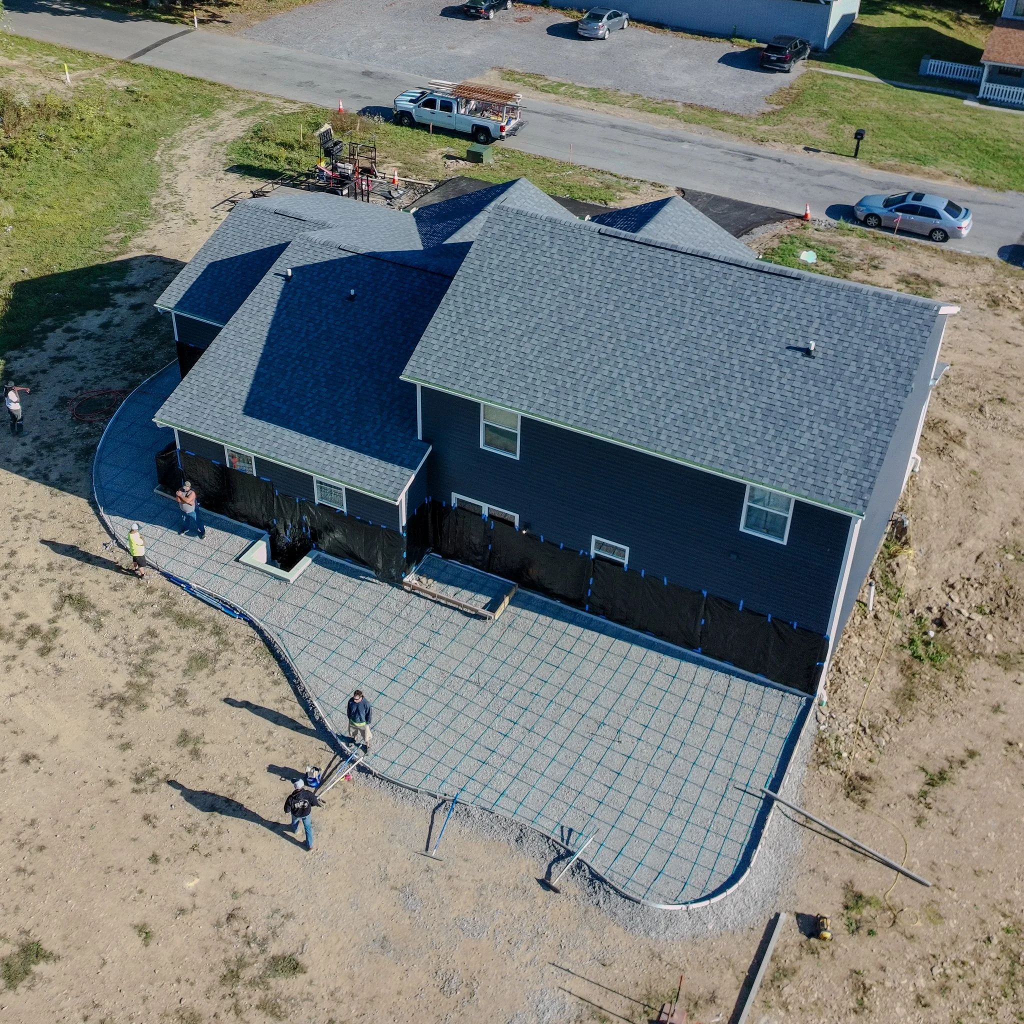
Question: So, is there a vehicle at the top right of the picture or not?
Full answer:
Yes, looking at the top right of the picture, one can make out a vehicle.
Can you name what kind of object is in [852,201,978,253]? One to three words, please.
car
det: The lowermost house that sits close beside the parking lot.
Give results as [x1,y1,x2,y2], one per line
[148,177,964,704]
